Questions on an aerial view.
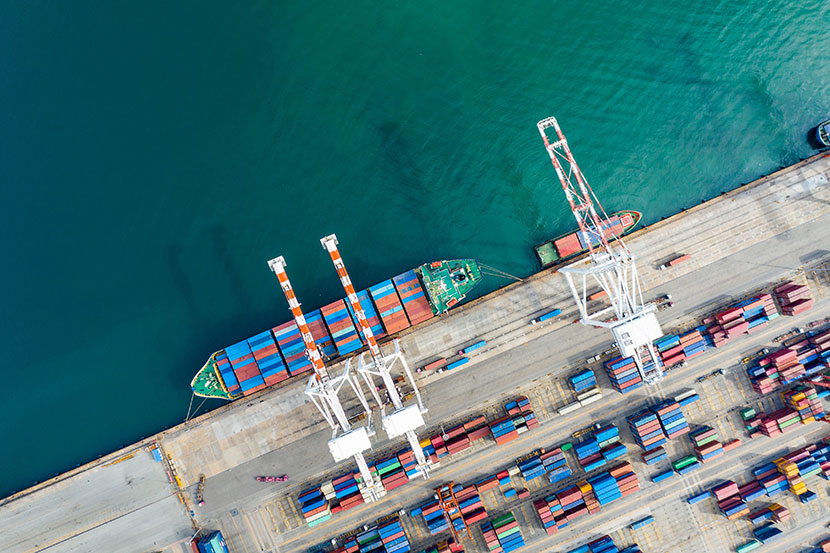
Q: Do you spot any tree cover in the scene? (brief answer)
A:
No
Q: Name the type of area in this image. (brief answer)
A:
port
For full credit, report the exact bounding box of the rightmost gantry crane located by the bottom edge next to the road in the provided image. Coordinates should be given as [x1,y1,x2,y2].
[434,484,473,547]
